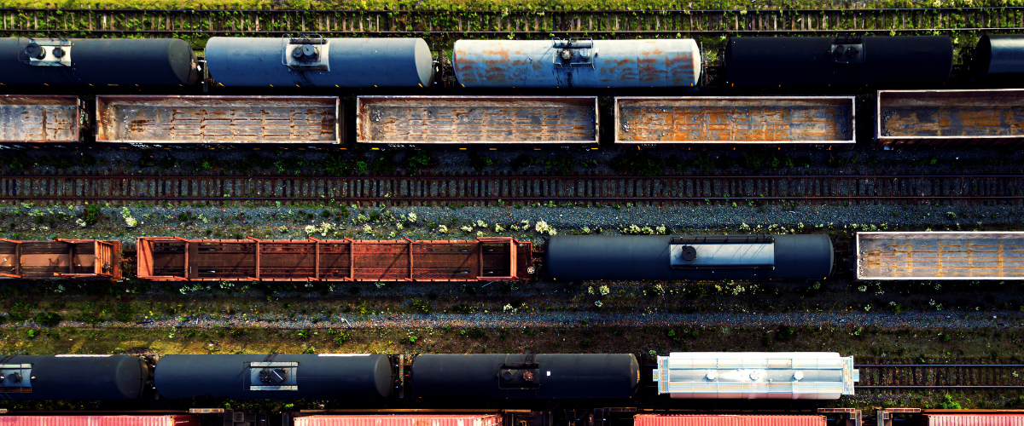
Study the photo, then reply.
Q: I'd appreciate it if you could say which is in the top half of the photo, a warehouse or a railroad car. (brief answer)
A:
railroad car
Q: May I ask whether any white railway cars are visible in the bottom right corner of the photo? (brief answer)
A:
Yes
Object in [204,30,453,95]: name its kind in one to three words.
rail car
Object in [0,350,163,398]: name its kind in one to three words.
rail car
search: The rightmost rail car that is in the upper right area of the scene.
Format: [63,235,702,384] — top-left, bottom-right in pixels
[952,34,1024,90]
